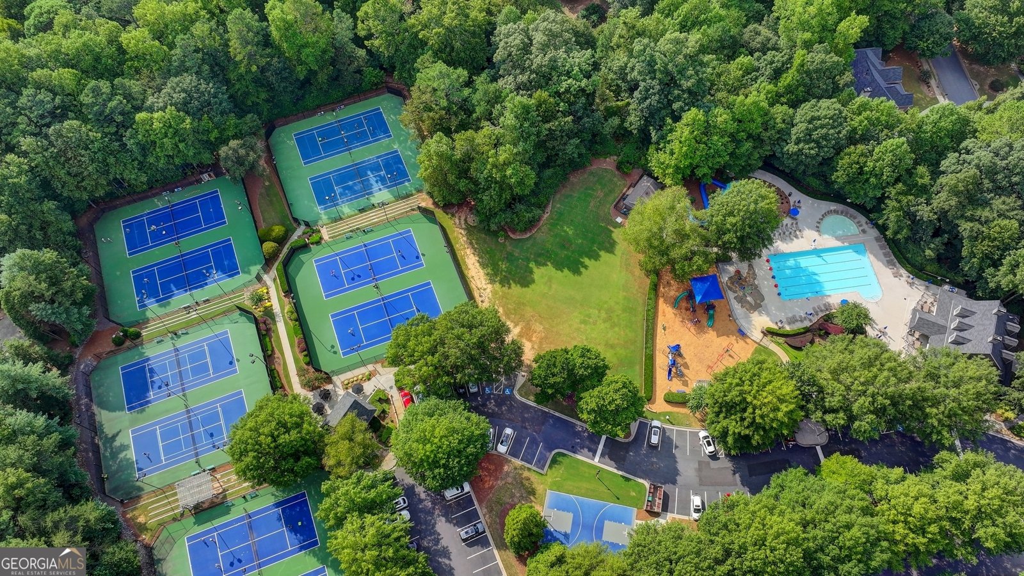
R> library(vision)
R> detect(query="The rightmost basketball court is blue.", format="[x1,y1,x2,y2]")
[534,491,635,576]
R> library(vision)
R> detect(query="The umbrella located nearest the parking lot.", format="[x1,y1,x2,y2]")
[350,382,364,396]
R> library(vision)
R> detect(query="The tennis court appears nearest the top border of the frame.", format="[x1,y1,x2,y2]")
[293,107,393,166]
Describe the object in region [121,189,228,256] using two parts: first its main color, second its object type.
blue tennis court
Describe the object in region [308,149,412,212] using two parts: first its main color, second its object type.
blue tennis court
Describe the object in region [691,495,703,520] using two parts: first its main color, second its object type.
white vehicle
